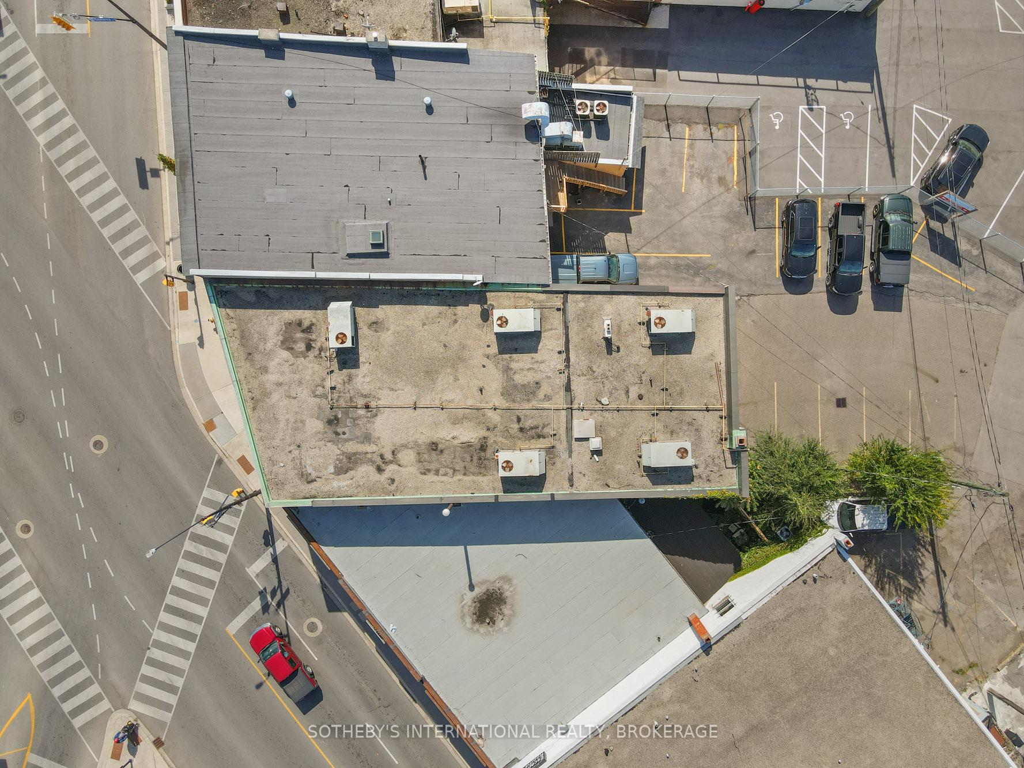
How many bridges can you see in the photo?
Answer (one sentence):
There are no bridges in the image.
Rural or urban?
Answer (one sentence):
It looks urban.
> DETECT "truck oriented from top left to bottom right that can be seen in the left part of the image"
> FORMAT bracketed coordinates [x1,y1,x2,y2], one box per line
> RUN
[250,622,318,705]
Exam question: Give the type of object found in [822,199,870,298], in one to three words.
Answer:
truck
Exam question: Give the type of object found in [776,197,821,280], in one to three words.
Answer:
car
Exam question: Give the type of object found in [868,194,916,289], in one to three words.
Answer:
truck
